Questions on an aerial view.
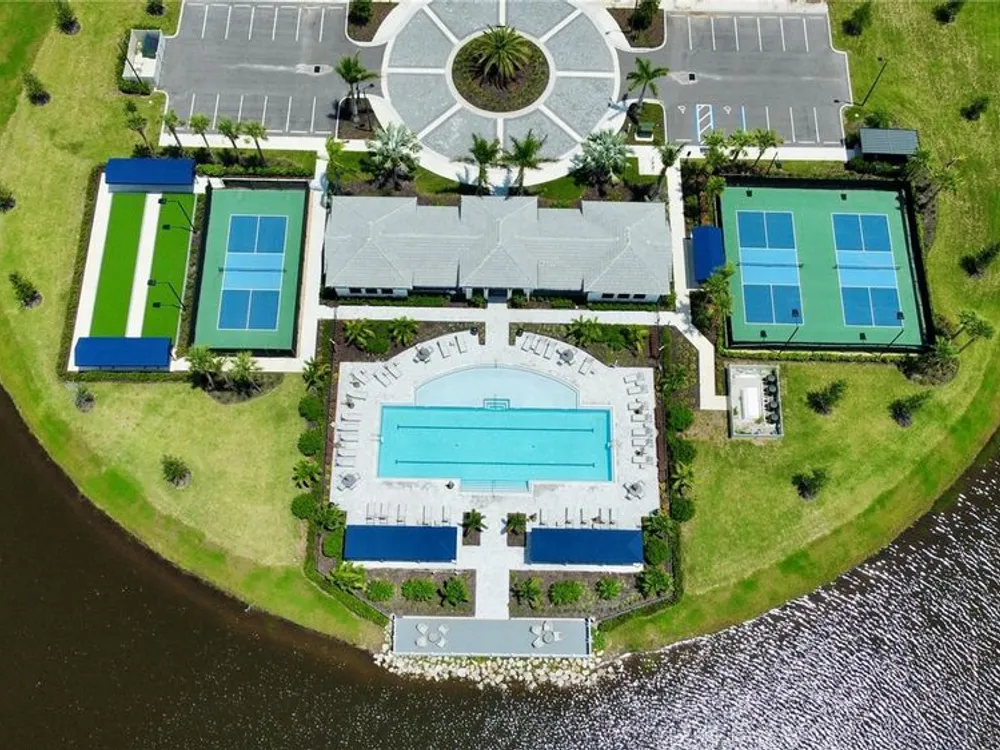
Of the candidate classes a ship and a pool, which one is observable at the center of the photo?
pool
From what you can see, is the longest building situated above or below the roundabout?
below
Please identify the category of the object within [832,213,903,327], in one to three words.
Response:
sports court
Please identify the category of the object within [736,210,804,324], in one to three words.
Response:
sports court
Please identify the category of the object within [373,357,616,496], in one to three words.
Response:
swimming pool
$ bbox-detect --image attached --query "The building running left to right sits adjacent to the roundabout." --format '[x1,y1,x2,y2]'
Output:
[323,195,671,304]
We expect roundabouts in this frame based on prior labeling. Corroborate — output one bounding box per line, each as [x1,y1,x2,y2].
[383,0,619,174]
